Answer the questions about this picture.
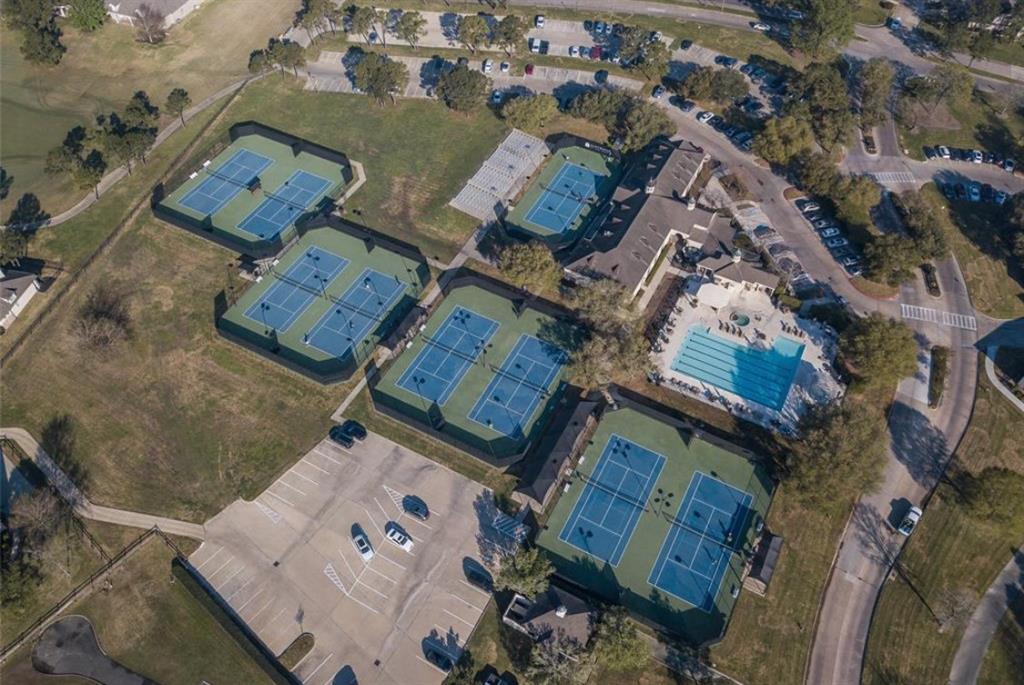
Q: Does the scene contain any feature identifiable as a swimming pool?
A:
Yes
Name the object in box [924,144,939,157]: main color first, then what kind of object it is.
black vehicle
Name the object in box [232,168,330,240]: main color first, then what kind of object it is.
blue tennis court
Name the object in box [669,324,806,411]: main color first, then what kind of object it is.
blue swimming pool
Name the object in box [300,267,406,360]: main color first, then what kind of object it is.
blue tennis court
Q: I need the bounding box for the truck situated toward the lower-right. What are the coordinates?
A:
[900,503,923,533]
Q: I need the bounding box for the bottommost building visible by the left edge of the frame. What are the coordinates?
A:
[0,273,37,326]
